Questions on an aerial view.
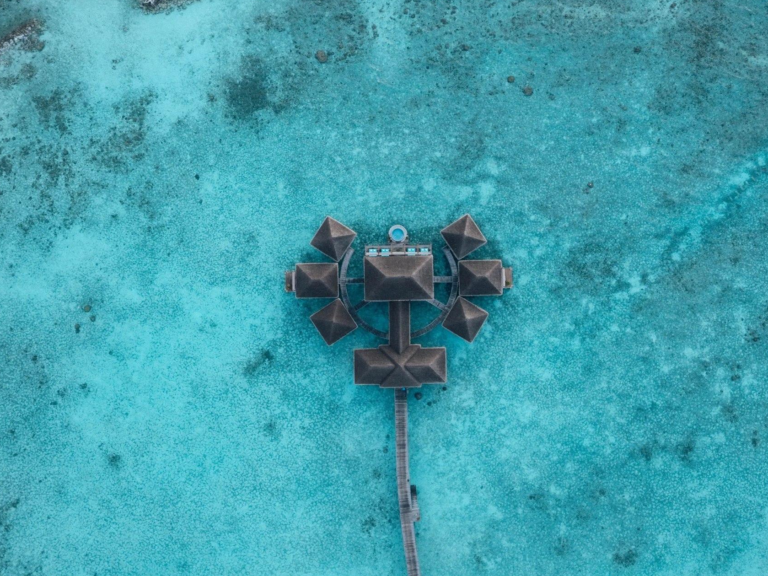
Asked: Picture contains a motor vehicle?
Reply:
No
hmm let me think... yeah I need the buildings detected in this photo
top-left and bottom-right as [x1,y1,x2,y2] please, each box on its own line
[311,217,355,261]
[441,215,486,257]
[458,260,514,295]
[364,238,433,301]
[311,299,356,344]
[443,296,487,341]
[354,344,446,387]
[283,263,339,297]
